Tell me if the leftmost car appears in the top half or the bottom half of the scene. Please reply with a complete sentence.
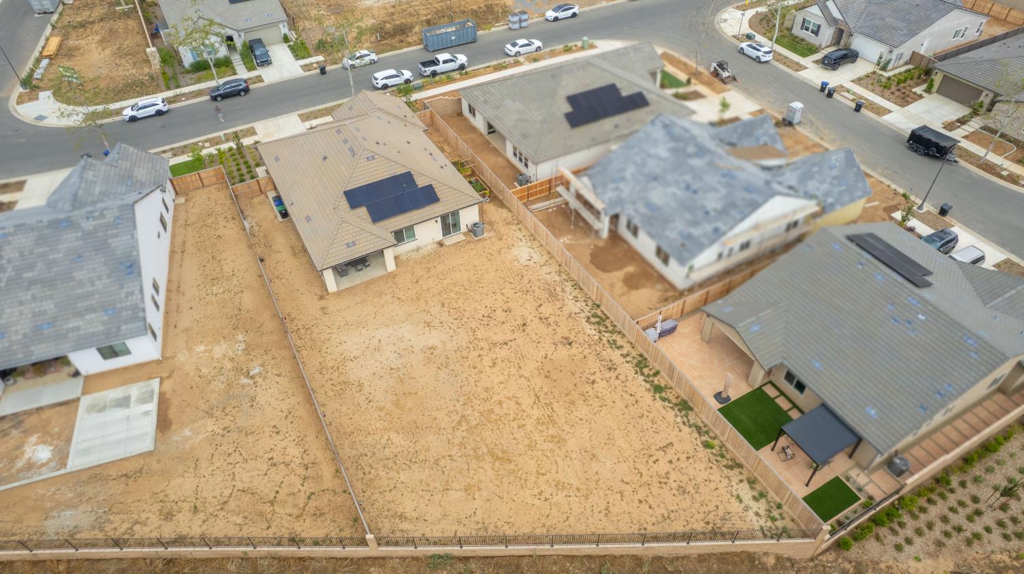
The top half of the photo is where the leftmost car is.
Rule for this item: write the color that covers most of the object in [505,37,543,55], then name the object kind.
white car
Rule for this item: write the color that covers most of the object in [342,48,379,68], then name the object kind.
white car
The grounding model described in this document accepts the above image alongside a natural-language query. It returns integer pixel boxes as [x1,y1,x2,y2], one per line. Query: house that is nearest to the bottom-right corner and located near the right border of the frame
[699,221,1024,473]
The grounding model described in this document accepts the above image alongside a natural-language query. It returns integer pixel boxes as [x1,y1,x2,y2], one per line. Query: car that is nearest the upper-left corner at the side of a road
[121,93,166,119]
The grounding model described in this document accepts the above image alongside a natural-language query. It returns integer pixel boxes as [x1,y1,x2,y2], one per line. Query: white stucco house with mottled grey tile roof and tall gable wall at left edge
[0,143,178,397]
